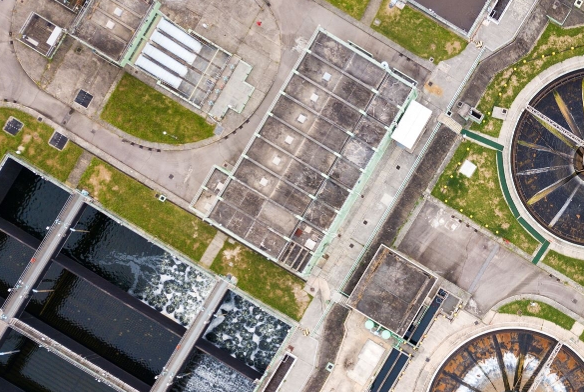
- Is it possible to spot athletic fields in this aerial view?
No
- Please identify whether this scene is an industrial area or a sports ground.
industrial area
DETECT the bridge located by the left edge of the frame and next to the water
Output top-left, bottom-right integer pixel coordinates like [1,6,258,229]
[0,191,77,324]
